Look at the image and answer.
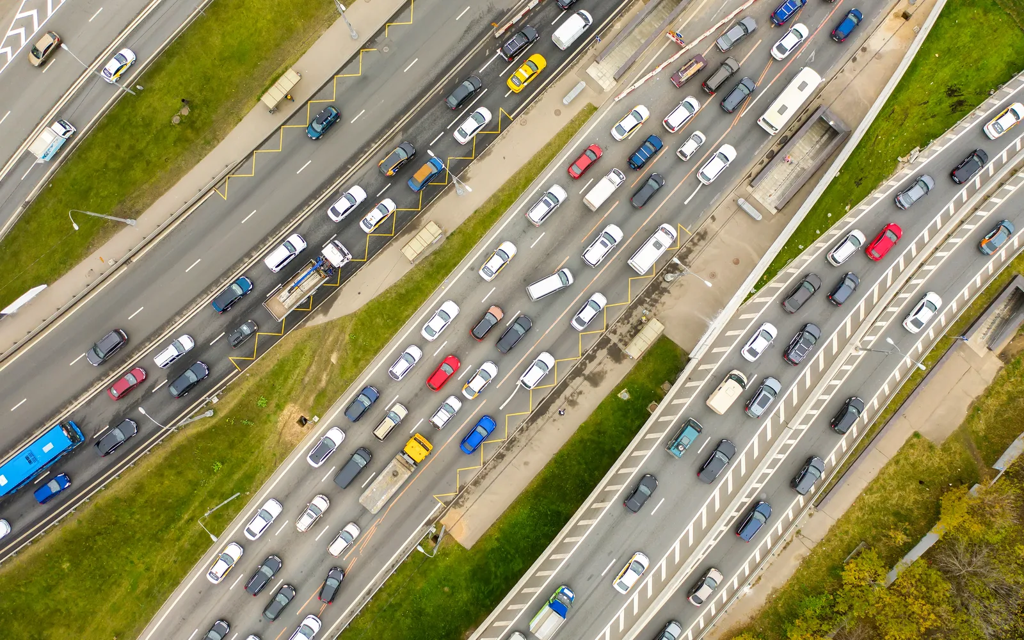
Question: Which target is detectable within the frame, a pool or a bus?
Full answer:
Visible in the photo is a bus.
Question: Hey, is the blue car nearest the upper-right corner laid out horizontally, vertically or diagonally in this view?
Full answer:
I'd say the blue car nearest the upper-right corner is aligned diagonally in the picture.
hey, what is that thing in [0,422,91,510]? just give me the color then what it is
blue bus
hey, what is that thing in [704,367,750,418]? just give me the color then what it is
white van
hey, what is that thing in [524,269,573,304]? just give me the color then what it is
white vehicle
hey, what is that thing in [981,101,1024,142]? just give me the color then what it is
white car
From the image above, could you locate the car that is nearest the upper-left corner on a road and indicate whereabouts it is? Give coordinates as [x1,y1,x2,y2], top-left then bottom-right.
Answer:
[27,28,64,68]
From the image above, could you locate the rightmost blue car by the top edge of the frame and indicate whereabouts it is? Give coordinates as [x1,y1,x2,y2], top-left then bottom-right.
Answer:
[830,8,864,45]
